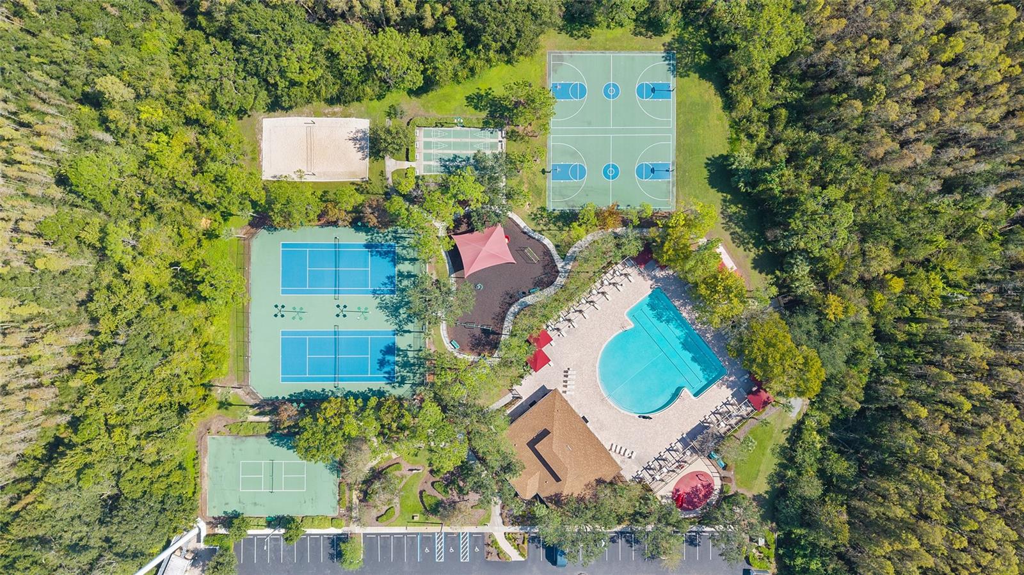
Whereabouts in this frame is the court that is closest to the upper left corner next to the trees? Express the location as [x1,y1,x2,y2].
[262,117,369,181]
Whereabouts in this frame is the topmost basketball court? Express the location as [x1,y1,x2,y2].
[548,51,676,131]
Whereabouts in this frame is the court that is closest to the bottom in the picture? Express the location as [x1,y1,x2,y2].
[207,436,338,516]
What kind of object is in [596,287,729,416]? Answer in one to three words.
swimming pool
